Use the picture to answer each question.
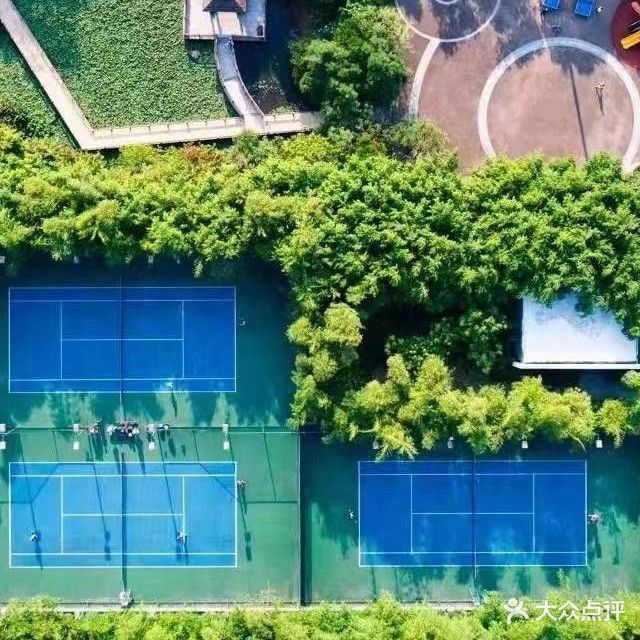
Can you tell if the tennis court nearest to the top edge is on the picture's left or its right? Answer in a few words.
left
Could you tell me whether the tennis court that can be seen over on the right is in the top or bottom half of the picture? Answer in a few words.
bottom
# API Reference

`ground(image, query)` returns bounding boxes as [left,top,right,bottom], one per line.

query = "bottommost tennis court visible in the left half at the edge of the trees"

[0,429,299,603]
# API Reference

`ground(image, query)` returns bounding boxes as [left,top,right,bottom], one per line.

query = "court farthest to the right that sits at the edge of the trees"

[300,431,640,603]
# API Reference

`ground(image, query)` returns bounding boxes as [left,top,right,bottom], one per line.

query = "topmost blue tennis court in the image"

[0,254,299,429]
